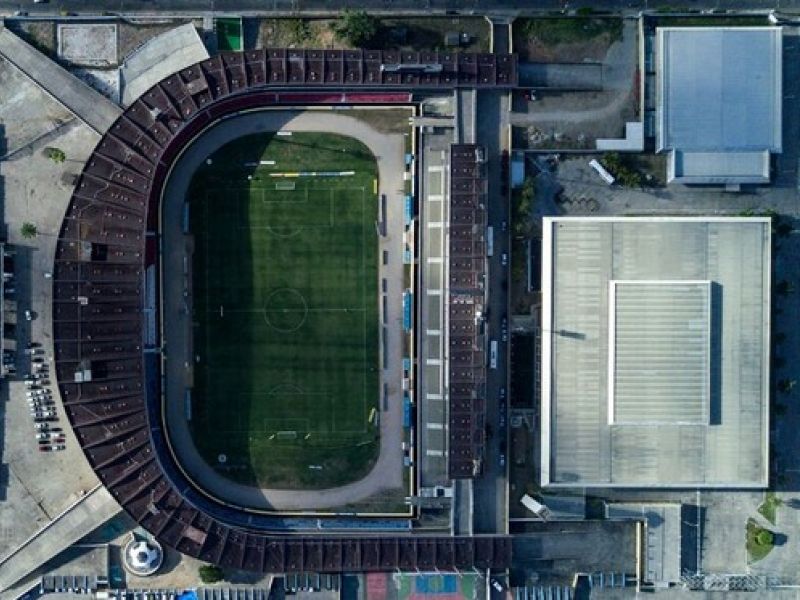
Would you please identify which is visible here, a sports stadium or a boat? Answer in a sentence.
It is a sports stadium that can be seen here.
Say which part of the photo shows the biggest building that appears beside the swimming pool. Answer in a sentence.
The biggest building that appears beside the swimming pool is in the right part of the image.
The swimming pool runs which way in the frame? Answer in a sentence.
I'd say the swimming pool is aligned vertically in the picture.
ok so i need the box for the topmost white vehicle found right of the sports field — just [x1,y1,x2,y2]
[590,158,616,183]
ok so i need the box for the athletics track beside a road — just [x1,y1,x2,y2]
[163,109,405,511]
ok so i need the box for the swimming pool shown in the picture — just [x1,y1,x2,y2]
[510,330,540,411]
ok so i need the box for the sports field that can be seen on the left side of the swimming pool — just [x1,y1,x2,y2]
[192,131,380,490]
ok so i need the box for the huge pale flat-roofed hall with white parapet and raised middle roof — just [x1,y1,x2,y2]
[541,216,772,489]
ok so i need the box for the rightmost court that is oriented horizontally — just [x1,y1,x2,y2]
[393,571,484,600]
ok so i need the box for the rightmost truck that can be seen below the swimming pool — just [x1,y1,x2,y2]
[523,495,549,519]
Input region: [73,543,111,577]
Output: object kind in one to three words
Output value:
shed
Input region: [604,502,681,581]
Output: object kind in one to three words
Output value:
building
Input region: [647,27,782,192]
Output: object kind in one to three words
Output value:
building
